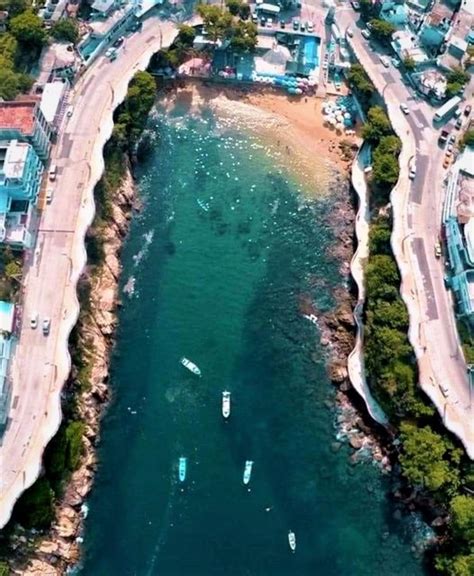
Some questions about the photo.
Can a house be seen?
Yes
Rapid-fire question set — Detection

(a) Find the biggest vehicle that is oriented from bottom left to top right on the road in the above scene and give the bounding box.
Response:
[430,96,460,123]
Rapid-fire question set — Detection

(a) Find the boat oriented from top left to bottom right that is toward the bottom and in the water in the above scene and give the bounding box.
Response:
[179,356,200,374]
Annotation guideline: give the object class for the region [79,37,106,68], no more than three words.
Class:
building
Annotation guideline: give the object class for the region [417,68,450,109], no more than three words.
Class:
house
